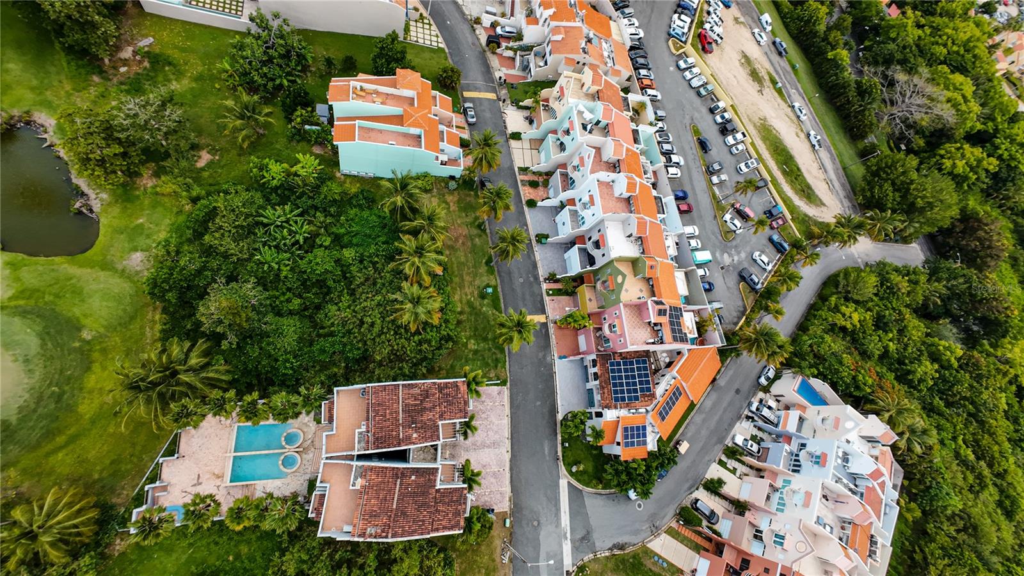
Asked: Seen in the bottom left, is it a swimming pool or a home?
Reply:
swimming pool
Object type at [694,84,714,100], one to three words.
car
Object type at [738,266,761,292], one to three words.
truck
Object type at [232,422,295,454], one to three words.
swimming pool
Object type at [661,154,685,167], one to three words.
vehicle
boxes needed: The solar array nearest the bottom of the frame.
[624,426,648,449]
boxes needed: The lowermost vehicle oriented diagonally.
[689,495,718,527]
